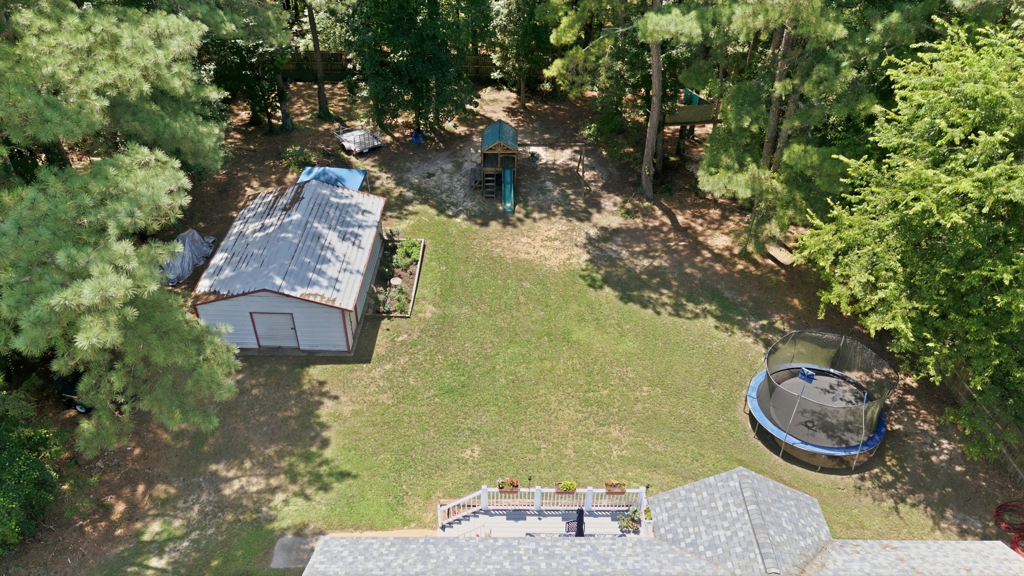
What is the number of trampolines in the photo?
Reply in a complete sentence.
I count just 1 trampoline.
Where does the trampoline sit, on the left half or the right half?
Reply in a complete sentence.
You can find the trampoline on the right side of the picture.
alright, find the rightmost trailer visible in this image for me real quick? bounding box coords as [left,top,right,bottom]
[332,117,383,154]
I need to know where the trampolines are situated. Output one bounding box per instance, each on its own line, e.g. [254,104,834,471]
[746,323,896,472]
